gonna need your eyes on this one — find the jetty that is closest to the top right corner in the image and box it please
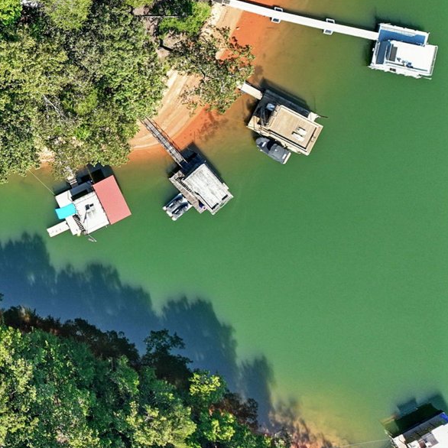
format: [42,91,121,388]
[370,22,442,81]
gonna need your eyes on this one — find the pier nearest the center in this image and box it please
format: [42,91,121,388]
[168,154,233,216]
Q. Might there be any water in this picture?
Yes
